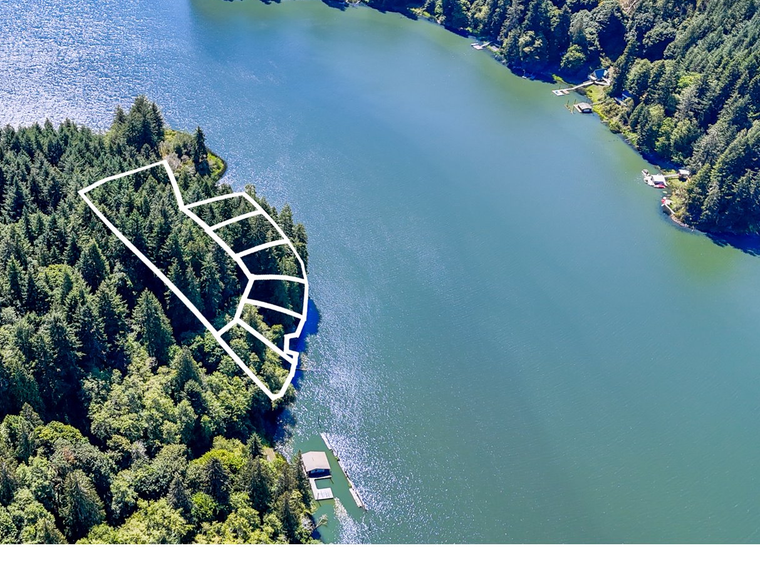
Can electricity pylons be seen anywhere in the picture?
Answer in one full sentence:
No, no electricity pylon can be seen from above.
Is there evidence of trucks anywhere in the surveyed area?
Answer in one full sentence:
No, the picture doesn't show any truck.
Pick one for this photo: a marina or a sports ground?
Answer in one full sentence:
What you see here is a marina.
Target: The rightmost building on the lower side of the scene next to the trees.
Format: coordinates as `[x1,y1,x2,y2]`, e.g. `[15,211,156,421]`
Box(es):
[301,451,330,475]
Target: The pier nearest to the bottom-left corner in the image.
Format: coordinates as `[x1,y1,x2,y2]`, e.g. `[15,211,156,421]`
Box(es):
[310,474,334,500]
